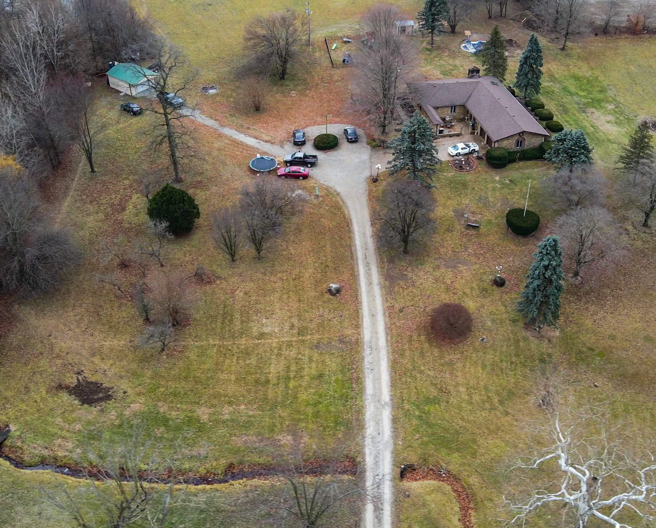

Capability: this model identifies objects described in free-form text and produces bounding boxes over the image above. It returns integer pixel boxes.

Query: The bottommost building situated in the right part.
[402,65,550,148]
